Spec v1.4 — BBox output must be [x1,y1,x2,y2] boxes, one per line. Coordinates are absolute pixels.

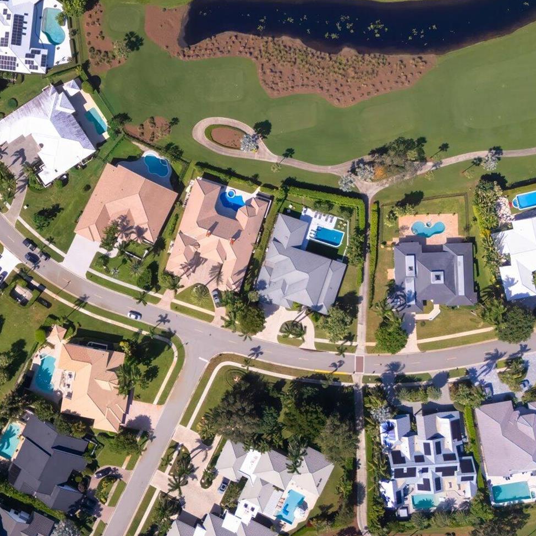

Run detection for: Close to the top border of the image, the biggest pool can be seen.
[41,7,66,46]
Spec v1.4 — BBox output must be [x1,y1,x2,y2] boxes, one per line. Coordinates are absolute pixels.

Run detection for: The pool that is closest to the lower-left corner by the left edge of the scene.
[0,423,22,459]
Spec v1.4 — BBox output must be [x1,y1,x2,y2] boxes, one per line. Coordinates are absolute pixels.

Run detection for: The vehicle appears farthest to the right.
[517,379,533,391]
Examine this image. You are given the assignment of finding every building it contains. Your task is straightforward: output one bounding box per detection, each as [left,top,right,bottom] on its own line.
[392,242,475,310]
[254,214,347,315]
[473,401,536,488]
[0,79,95,185]
[78,163,178,243]
[0,503,55,536]
[165,440,335,536]
[46,324,67,346]
[166,179,269,291]
[0,416,88,515]
[0,0,47,75]
[55,342,128,434]
[492,217,536,300]
[378,412,478,511]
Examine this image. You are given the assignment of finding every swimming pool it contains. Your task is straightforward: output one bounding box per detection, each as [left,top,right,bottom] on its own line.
[274,489,306,526]
[513,190,536,210]
[143,153,171,178]
[412,495,438,511]
[0,423,22,459]
[411,220,447,239]
[315,226,346,248]
[41,7,66,46]
[34,354,57,395]
[85,106,109,135]
[219,189,243,212]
